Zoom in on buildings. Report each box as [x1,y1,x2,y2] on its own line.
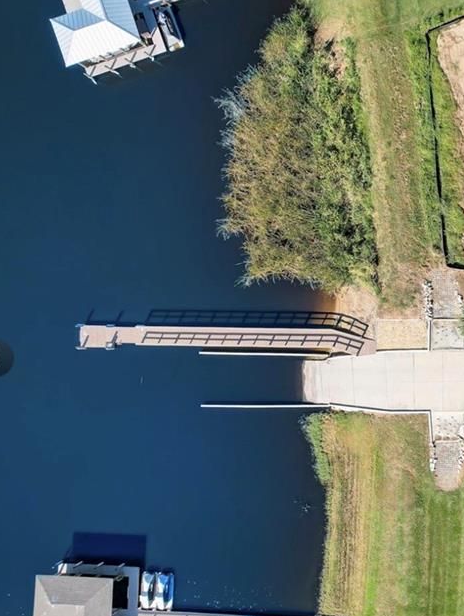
[34,562,141,616]
[49,0,168,76]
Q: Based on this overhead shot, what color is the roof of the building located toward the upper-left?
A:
white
